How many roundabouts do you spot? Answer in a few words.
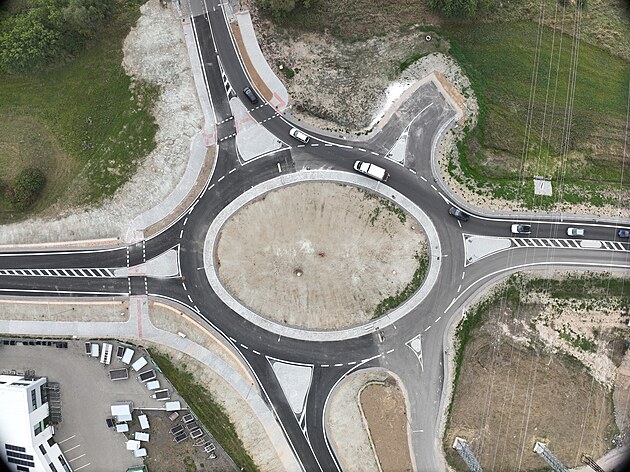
1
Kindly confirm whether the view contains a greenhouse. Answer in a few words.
No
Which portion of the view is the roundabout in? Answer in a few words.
center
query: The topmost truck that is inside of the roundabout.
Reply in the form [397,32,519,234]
[355,160,388,182]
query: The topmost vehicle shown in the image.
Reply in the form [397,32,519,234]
[243,86,258,105]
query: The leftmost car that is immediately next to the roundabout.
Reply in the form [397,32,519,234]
[289,128,310,144]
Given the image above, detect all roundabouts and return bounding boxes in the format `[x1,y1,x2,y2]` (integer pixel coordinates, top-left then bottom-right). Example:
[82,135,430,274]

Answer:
[180,144,463,367]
